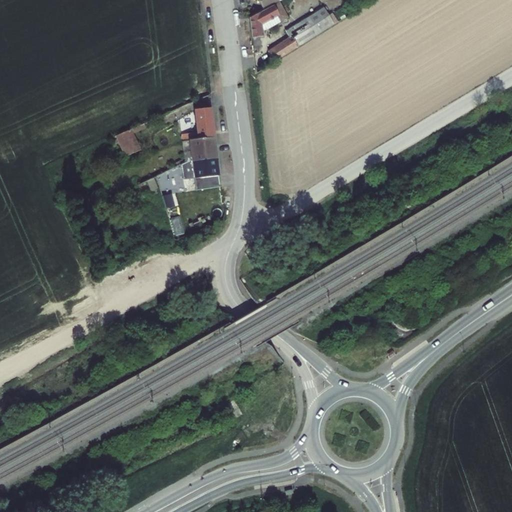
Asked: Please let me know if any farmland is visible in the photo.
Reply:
Yes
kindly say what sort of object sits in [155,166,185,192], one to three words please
house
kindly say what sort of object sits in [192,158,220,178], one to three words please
house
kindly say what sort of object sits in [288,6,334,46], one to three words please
building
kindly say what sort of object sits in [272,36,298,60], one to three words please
barn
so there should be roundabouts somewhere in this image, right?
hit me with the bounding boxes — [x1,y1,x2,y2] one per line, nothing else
[306,384,404,481]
